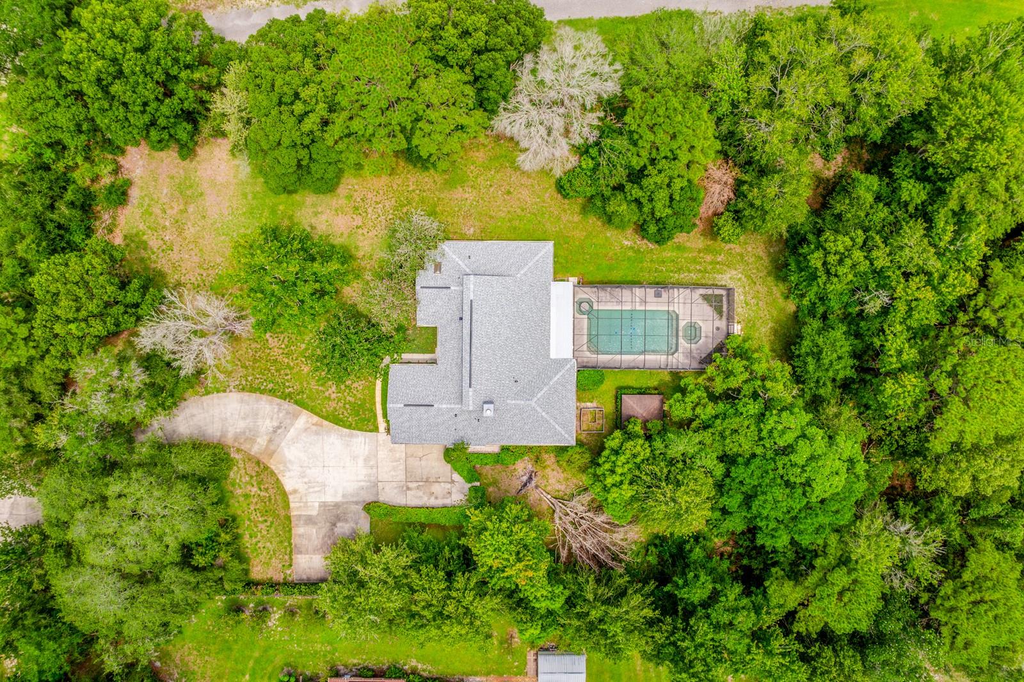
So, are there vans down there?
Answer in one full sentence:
No, the photo shows no van.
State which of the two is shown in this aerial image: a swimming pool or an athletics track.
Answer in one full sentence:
This aerial view contains a swimming pool.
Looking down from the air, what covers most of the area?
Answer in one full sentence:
For the most part, this view shows trees.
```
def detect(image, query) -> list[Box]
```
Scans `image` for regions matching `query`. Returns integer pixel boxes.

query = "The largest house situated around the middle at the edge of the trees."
[387,240,577,449]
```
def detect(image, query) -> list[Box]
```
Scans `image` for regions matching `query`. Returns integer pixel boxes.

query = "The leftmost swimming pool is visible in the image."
[573,295,682,358]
